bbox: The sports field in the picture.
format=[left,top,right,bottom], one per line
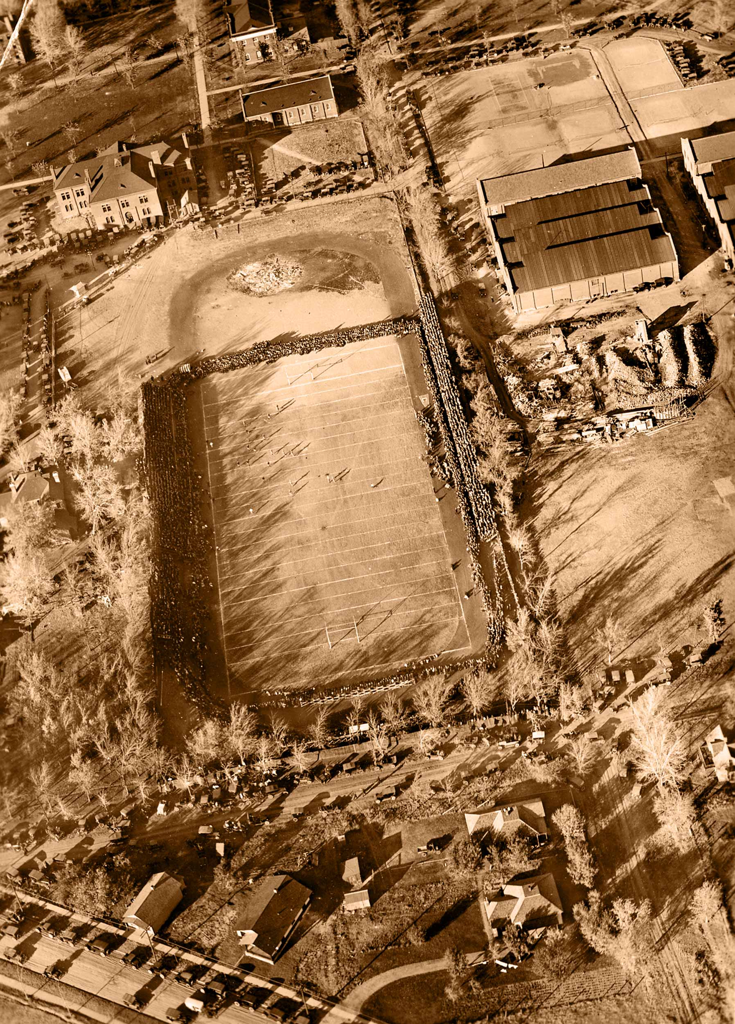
[200,343,472,697]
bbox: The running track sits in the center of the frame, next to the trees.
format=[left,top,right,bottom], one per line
[168,235,504,716]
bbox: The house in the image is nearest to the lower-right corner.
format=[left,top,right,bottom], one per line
[486,872,567,941]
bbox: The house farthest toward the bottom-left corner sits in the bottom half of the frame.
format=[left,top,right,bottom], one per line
[117,873,184,948]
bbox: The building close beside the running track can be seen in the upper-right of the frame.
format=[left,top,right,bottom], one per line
[478,147,680,314]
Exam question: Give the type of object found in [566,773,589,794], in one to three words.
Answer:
car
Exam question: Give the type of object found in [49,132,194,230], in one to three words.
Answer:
building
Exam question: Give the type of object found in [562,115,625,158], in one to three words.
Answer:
tennis court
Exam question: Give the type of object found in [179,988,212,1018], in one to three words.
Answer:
truck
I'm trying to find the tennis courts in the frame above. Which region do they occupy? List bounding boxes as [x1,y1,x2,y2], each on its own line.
[483,70,537,117]
[502,127,564,171]
[562,115,625,158]
[610,42,678,89]
[639,97,711,142]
